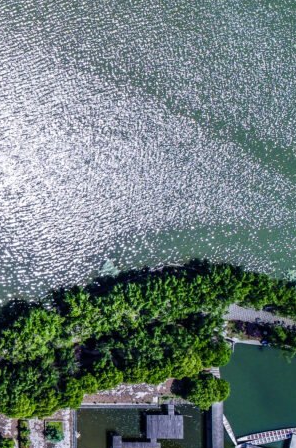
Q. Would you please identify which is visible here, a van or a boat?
boat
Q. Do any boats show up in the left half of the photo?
No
